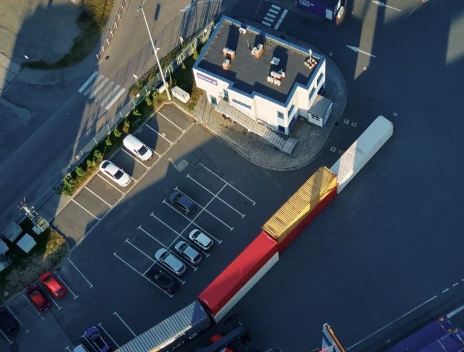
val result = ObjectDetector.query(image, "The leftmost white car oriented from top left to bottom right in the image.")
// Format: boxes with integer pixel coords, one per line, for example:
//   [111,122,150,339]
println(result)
[100,160,130,187]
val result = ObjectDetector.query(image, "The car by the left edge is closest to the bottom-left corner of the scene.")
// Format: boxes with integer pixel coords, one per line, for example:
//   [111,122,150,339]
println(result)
[0,308,20,338]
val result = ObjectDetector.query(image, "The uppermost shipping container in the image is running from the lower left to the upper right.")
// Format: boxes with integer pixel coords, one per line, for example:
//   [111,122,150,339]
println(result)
[324,110,389,183]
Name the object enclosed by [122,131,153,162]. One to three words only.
van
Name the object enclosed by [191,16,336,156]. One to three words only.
building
